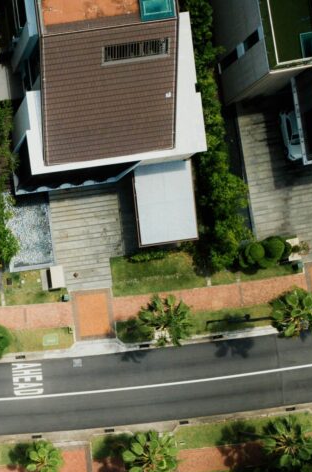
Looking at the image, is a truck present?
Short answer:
No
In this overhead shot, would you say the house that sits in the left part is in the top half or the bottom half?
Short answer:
top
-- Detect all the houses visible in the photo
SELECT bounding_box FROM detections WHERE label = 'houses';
[218,0,312,170]
[1,0,205,249]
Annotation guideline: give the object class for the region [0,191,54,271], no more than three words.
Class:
pond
